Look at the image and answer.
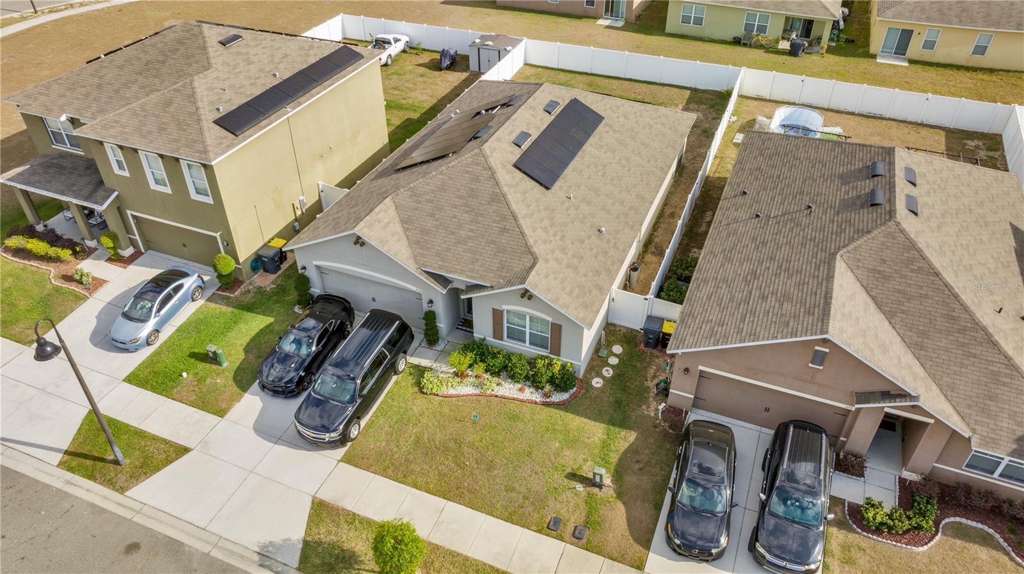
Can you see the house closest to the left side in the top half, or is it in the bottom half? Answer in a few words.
top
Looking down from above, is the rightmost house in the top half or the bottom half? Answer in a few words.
top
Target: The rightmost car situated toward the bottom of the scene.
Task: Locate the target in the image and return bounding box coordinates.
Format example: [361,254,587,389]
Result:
[750,423,838,574]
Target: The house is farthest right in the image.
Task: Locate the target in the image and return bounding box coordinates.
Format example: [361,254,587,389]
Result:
[870,0,1024,74]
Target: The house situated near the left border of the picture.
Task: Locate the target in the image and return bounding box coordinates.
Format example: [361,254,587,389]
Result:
[0,12,388,282]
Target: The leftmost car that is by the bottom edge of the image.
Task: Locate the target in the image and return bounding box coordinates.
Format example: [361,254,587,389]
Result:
[664,418,739,565]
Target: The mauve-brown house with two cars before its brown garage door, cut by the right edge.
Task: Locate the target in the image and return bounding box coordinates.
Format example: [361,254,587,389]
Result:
[666,125,1024,503]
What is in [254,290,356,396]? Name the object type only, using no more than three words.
car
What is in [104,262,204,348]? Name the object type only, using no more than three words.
car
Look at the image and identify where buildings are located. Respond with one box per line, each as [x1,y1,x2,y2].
[491,0,650,26]
[666,0,844,53]
[666,125,1024,503]
[280,80,697,377]
[0,12,388,282]
[870,0,1024,74]
[468,31,520,73]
